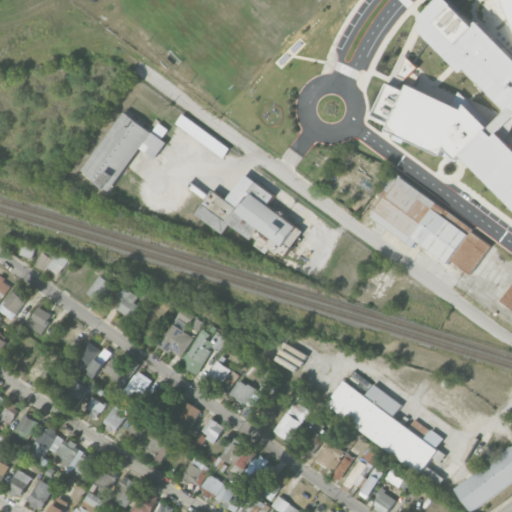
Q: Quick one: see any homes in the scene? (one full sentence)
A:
Yes, this view includes a home.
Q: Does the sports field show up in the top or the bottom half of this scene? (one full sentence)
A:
Seen from above, the sports field lies in the top half of the view.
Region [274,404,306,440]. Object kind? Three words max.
house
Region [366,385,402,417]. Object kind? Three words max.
shed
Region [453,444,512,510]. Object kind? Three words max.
building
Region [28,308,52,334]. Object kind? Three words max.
house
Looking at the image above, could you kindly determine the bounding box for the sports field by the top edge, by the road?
[118,0,322,103]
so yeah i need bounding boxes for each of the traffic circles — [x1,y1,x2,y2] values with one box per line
[296,73,365,143]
